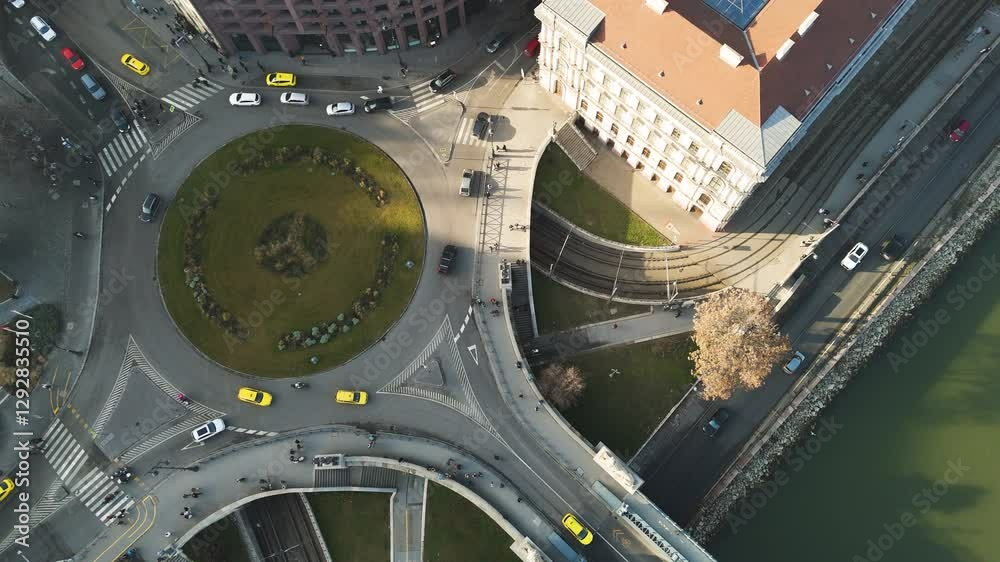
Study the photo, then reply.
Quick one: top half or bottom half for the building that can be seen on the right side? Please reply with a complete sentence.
It is in the top half that the building that can be seen on the right side appears.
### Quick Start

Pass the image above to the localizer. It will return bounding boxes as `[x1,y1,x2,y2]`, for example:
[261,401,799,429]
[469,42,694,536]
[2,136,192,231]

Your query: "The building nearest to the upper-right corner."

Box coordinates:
[536,0,915,231]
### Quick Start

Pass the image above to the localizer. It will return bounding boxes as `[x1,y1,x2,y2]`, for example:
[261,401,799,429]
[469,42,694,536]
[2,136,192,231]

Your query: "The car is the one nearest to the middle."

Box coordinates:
[437,242,455,273]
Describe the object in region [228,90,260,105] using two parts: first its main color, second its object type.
white car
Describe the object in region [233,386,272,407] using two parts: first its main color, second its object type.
yellow car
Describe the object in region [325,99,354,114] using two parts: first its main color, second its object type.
white car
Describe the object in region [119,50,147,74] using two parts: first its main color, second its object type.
yellow car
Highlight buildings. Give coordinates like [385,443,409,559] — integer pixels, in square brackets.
[536,0,915,231]
[172,0,476,59]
